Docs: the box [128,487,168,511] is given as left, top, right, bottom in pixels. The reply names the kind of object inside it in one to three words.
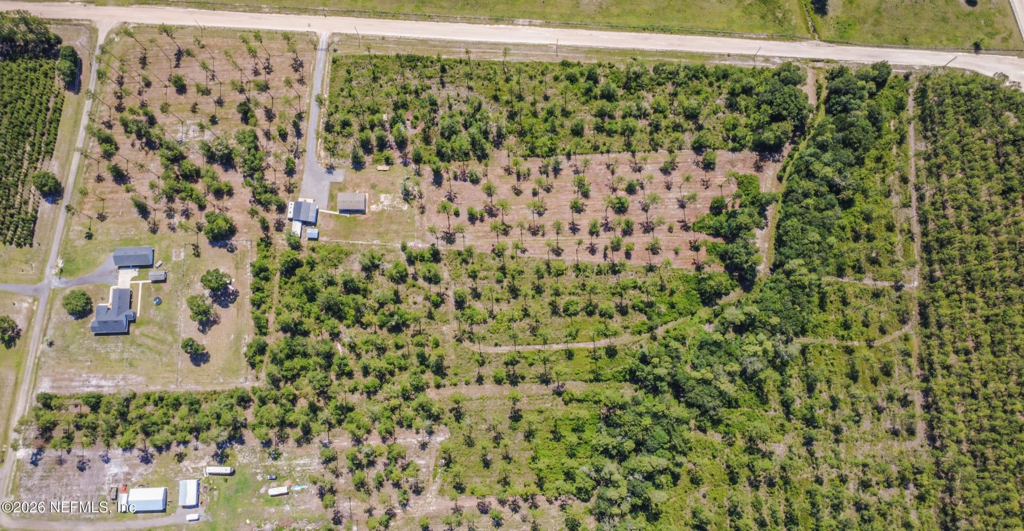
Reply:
barn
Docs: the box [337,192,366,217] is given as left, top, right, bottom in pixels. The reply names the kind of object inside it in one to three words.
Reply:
house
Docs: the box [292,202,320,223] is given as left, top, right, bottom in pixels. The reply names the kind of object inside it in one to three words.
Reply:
building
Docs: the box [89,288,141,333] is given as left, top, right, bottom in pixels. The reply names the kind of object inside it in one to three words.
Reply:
house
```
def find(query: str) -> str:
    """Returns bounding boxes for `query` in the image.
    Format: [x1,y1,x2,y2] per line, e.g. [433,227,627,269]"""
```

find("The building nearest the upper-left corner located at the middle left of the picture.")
[113,246,156,267]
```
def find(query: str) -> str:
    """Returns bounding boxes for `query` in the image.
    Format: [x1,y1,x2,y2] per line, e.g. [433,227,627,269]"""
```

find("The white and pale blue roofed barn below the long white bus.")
[179,479,201,505]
